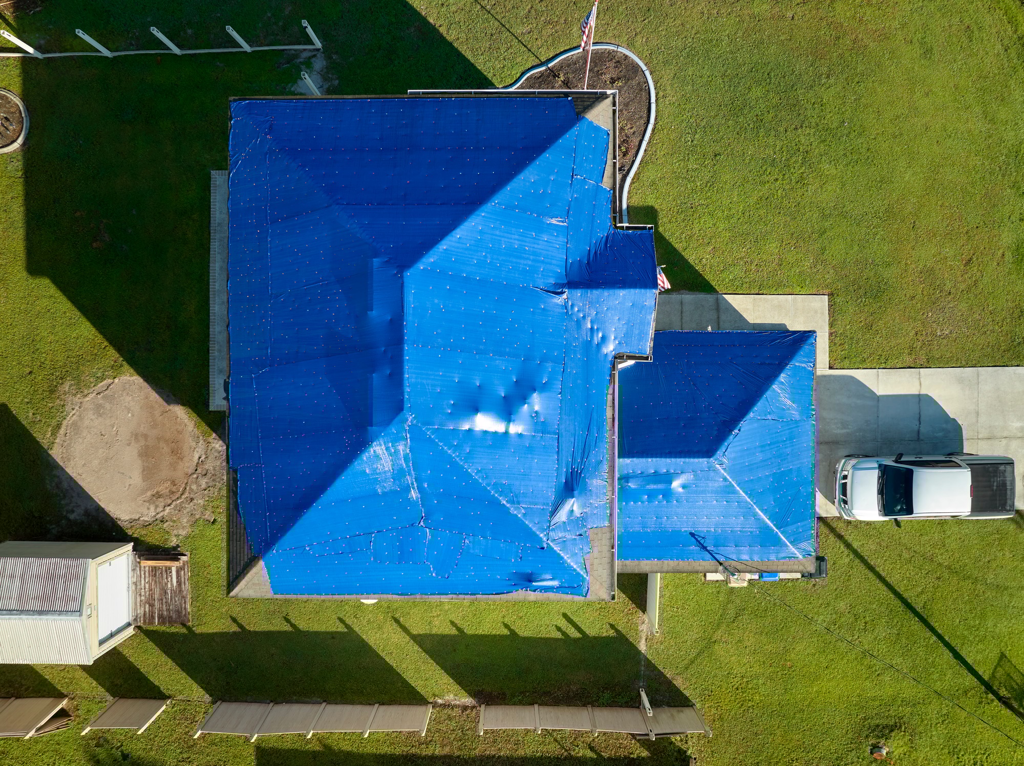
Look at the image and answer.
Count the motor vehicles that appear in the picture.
one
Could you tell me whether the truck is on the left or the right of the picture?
right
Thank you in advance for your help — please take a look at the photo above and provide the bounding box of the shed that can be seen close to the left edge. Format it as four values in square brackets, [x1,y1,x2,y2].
[0,544,136,666]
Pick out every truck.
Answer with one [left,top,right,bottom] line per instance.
[831,452,1017,528]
